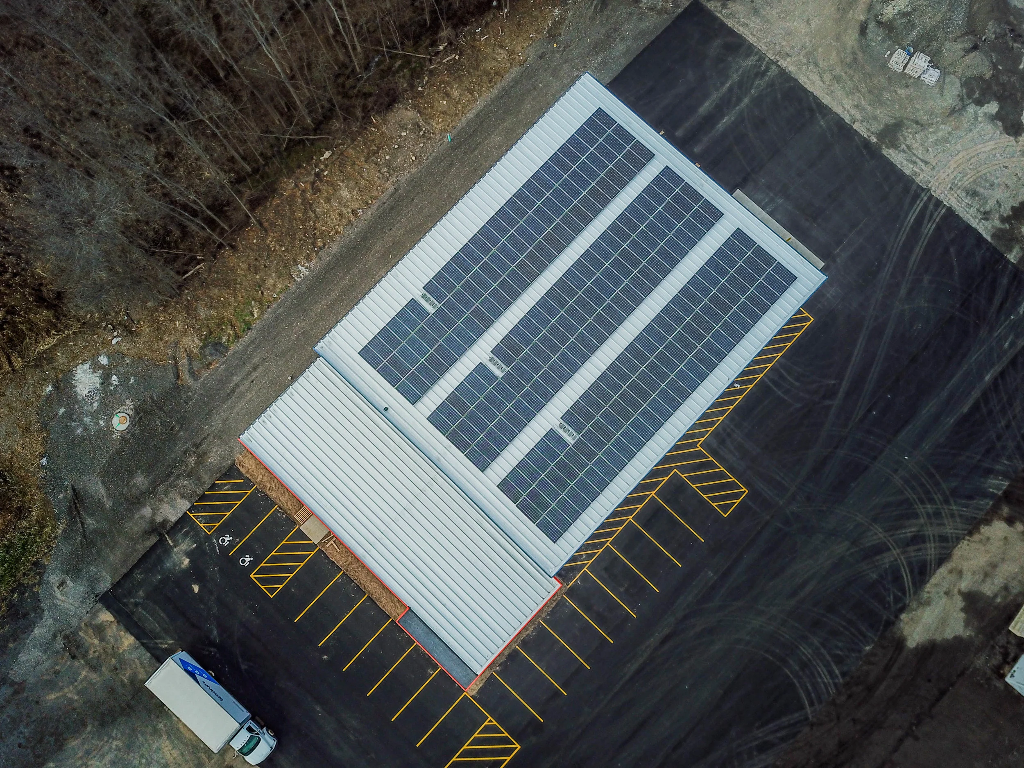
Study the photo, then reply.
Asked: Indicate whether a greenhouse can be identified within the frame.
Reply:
No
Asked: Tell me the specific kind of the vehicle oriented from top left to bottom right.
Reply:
truck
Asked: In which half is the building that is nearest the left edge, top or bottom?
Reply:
bottom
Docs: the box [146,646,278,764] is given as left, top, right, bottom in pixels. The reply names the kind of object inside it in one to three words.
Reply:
truck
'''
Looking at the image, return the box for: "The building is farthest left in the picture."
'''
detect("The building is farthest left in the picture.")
[237,355,562,692]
